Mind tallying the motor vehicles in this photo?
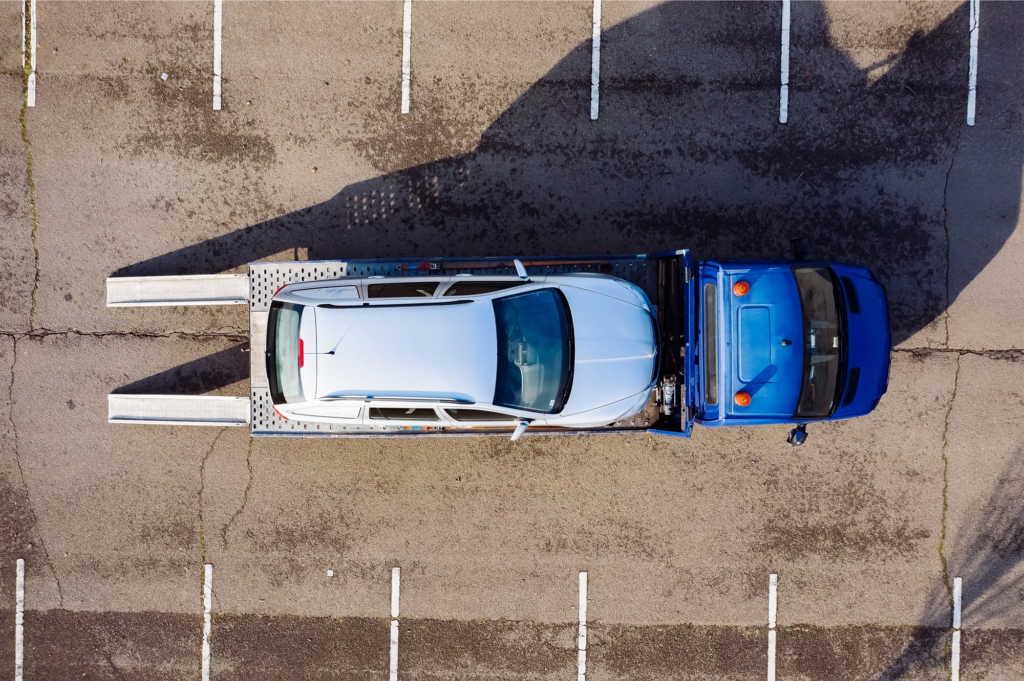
2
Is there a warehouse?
No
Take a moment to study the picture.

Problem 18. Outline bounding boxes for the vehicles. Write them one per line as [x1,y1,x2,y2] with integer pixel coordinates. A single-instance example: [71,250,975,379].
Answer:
[263,258,662,441]
[241,238,889,446]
